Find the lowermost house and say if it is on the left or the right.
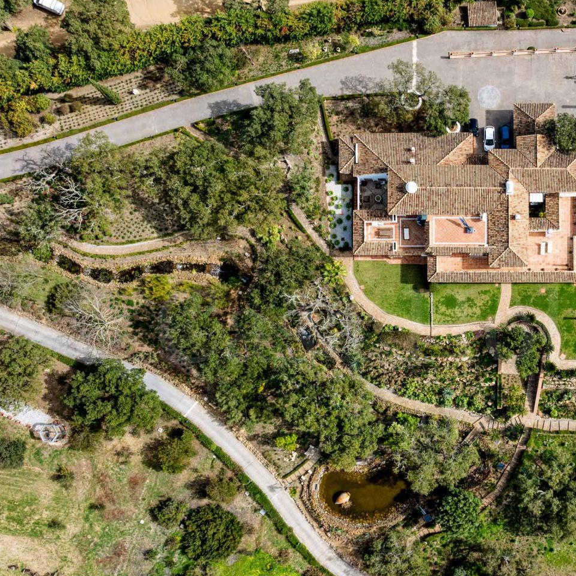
right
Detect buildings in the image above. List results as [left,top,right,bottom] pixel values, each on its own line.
[468,0,496,30]
[338,103,576,283]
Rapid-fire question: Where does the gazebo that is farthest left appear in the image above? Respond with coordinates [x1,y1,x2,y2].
[36,420,64,444]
